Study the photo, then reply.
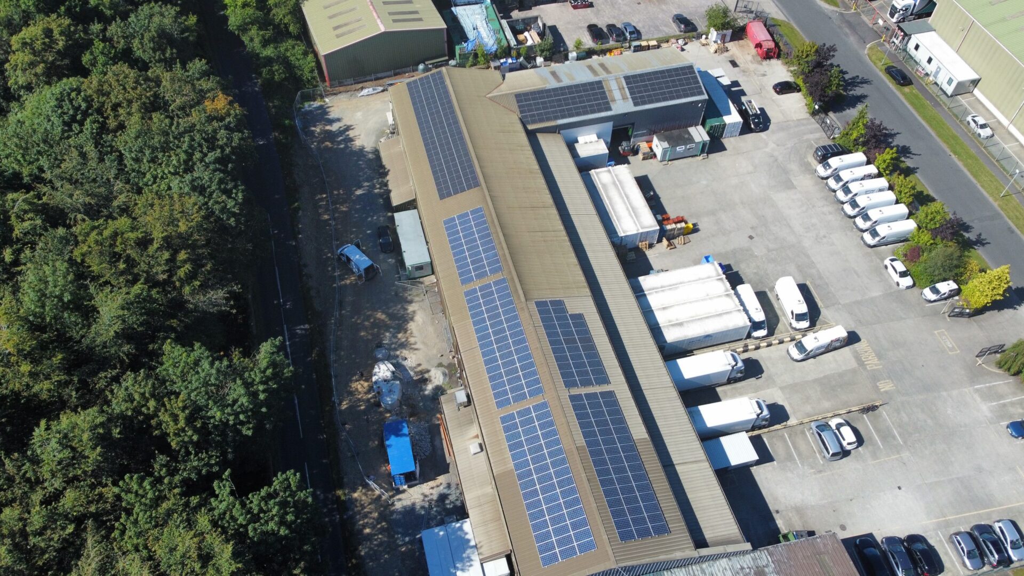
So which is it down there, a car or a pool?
car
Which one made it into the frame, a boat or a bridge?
boat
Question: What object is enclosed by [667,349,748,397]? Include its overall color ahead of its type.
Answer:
white truck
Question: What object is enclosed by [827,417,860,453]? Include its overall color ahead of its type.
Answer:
white car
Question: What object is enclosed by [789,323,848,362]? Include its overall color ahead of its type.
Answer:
white van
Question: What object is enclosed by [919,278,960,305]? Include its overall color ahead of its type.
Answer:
white vehicle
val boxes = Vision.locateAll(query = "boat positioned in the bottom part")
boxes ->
[372,357,407,410]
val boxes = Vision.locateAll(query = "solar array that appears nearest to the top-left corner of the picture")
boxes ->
[405,66,481,196]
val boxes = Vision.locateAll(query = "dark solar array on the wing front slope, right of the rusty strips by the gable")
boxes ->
[629,65,706,108]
